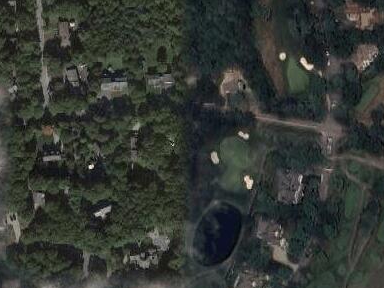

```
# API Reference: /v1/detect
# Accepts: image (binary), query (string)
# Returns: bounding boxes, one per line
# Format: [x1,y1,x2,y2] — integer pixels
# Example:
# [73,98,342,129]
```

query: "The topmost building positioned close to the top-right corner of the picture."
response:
[346,2,384,29]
